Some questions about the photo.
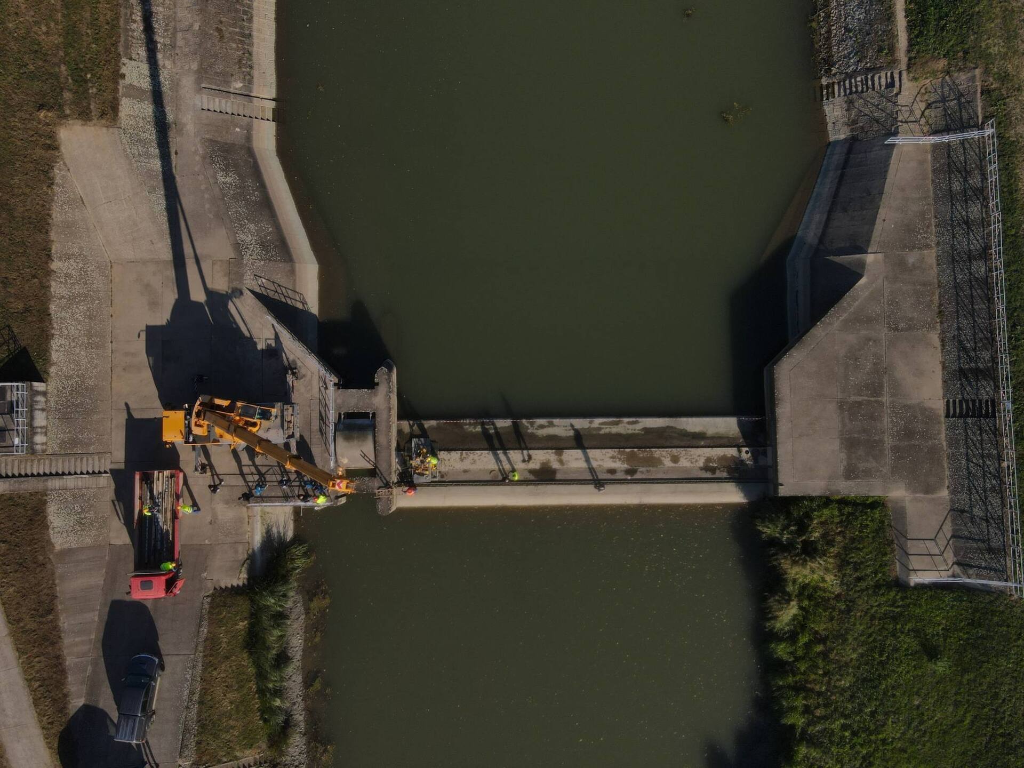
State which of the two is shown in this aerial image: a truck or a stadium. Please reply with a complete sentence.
The image shows a truck.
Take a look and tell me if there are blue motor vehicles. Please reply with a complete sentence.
No, there appears to be no blue motor vehicle in this shot.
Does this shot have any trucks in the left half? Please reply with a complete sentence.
Yes, the scene does show a truck in the left half.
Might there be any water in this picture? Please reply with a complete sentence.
Yes, some water is visible.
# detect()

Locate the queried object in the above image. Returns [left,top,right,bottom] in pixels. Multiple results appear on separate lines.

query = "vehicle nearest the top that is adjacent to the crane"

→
[126,469,193,597]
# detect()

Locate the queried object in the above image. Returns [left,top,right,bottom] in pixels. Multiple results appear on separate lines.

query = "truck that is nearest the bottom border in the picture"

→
[113,647,166,745]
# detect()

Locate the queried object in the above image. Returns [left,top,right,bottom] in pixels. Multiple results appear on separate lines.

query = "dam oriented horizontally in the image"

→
[336,363,765,513]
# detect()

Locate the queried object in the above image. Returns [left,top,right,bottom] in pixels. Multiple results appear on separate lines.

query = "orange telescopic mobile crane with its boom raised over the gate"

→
[162,365,355,496]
